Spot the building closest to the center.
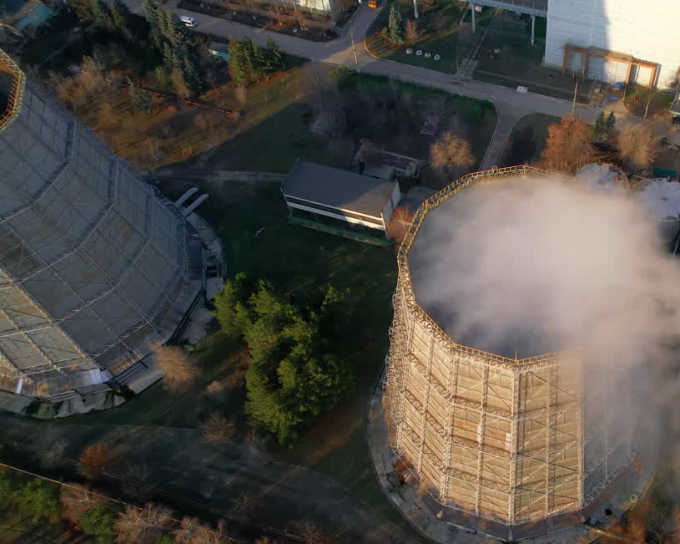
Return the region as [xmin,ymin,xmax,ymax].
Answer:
[280,160,404,257]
